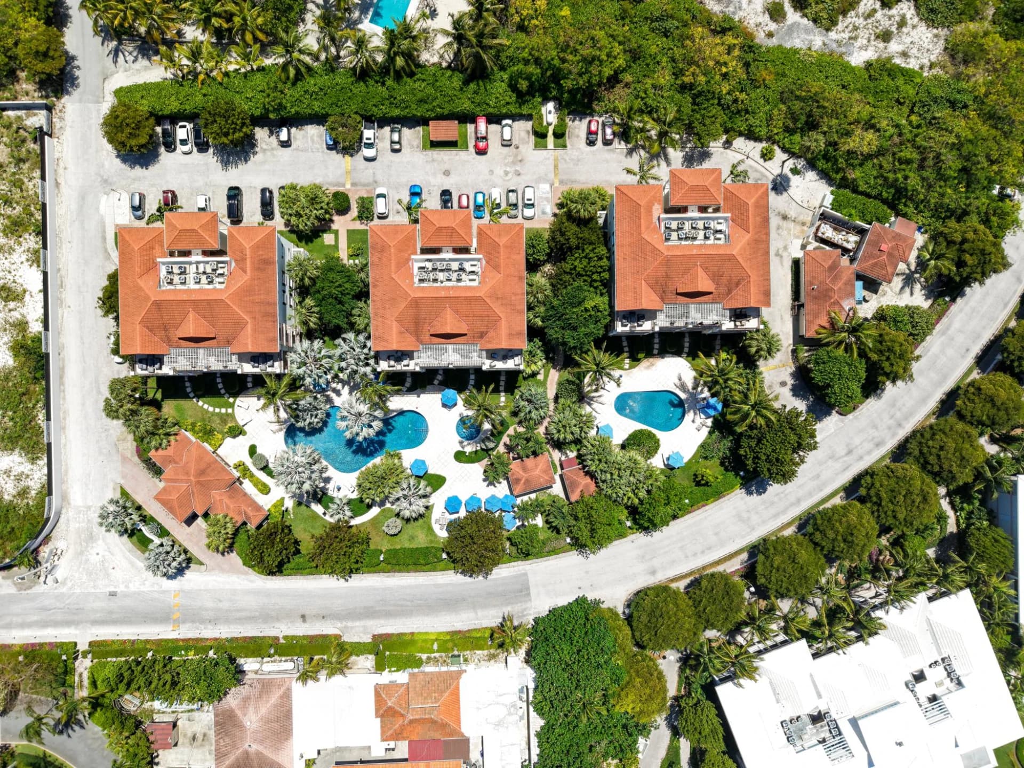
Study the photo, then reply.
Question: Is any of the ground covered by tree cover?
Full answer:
Yes, the picture does contain tree cover.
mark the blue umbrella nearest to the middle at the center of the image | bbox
[440,389,459,407]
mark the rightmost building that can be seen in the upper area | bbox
[850,217,917,284]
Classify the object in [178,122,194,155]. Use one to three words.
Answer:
car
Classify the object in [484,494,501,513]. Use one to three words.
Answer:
umbrella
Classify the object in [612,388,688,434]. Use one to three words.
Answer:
swimming pool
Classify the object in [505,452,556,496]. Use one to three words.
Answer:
building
